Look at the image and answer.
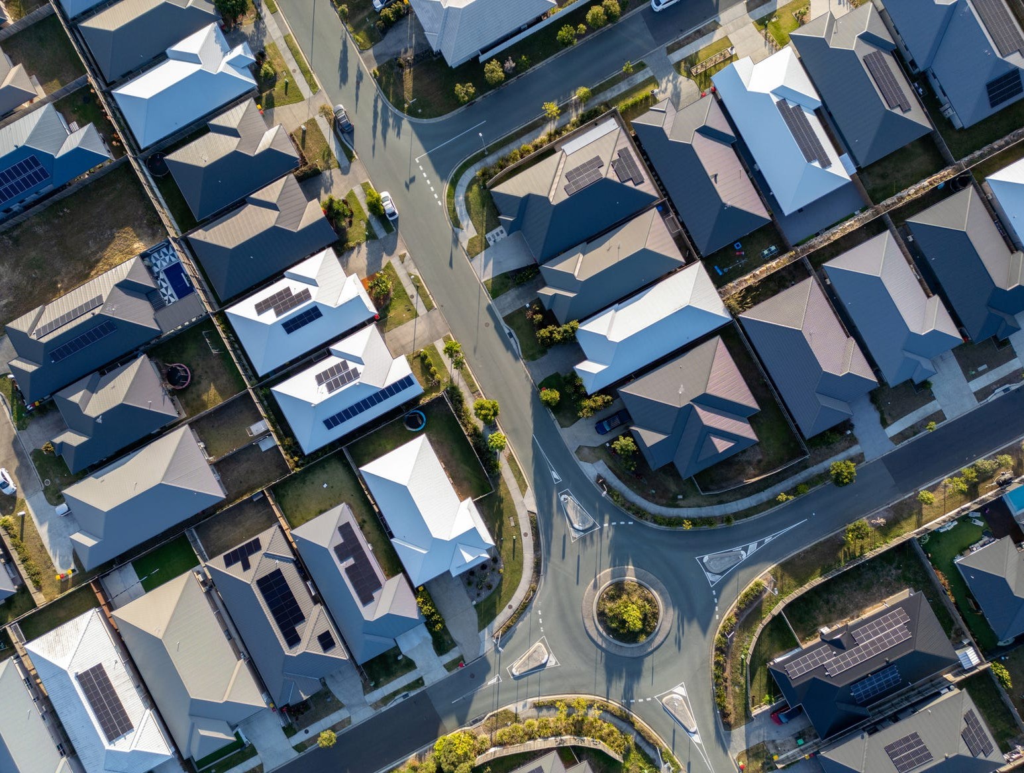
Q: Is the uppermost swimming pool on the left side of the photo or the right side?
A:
left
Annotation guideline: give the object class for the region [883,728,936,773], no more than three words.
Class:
solar array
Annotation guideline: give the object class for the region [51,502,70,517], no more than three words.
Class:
car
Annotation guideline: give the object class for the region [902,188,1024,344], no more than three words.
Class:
house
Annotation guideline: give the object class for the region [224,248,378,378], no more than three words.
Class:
house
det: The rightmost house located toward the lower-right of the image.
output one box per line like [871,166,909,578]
[947,531,1024,644]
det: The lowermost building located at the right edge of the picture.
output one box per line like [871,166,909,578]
[816,688,1004,773]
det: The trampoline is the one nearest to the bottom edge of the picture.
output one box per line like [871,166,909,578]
[403,410,426,433]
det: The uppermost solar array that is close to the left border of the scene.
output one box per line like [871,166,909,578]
[0,150,55,205]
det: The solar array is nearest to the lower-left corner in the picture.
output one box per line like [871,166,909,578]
[72,660,137,746]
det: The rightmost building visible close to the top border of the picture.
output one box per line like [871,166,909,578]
[872,0,1024,130]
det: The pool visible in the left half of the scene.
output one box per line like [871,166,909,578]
[161,260,193,300]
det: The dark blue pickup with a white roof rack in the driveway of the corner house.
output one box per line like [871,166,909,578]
[594,410,632,434]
